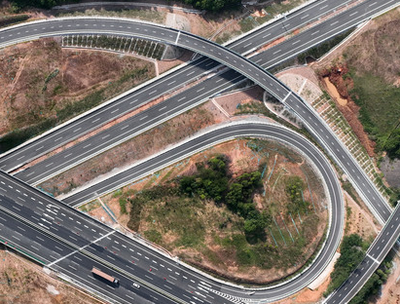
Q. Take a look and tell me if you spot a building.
No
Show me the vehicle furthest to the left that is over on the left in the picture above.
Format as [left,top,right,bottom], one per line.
[93,269,117,283]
